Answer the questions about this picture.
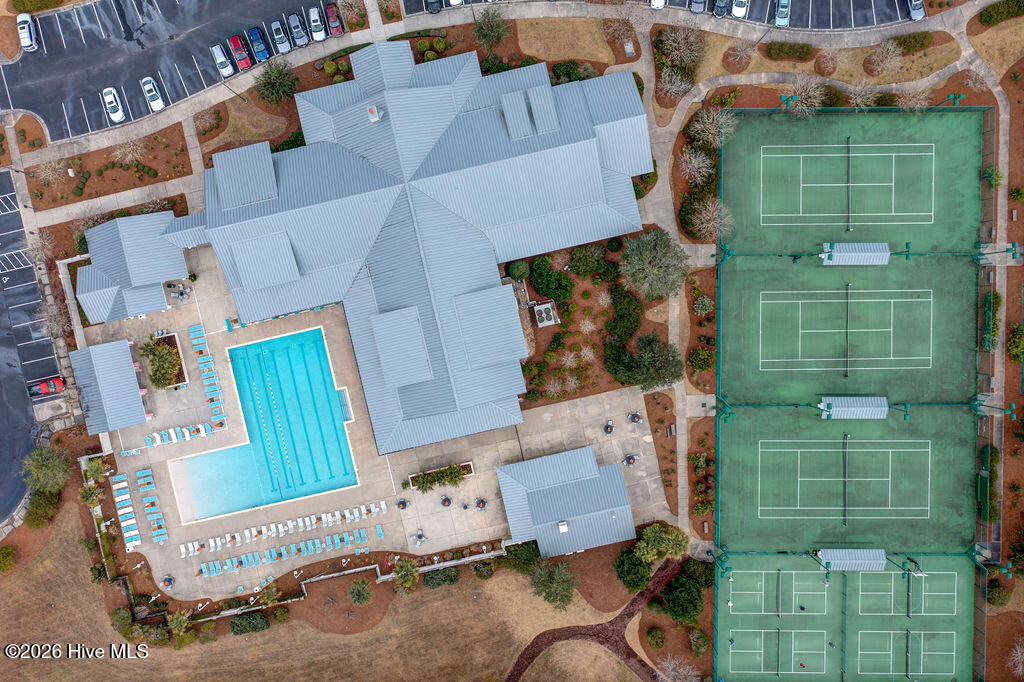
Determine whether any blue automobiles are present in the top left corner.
Yes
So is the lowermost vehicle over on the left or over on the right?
left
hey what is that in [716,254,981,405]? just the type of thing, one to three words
tennis court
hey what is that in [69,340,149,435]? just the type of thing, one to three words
shed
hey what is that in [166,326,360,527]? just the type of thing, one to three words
swimming pool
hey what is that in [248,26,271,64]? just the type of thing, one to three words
car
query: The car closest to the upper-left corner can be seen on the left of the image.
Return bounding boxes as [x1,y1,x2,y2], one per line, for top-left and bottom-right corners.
[17,15,41,52]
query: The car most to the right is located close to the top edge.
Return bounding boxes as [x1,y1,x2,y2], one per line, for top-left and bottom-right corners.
[905,0,925,23]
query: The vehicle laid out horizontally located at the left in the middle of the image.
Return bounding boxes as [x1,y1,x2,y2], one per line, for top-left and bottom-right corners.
[26,378,67,398]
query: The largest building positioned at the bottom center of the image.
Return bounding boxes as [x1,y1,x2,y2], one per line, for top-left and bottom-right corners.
[496,446,636,558]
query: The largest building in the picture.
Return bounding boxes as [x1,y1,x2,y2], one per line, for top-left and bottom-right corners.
[204,41,654,456]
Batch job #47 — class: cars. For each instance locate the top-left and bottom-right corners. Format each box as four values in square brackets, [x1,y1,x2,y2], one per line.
[649,0,665,11]
[143,77,166,114]
[711,0,728,20]
[905,0,925,23]
[210,42,236,81]
[689,0,706,15]
[730,0,748,20]
[327,2,345,39]
[229,34,254,73]
[17,15,41,52]
[427,0,443,15]
[248,26,271,64]
[288,12,311,50]
[270,19,294,57]
[104,88,127,125]
[309,6,328,44]
[773,0,790,29]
